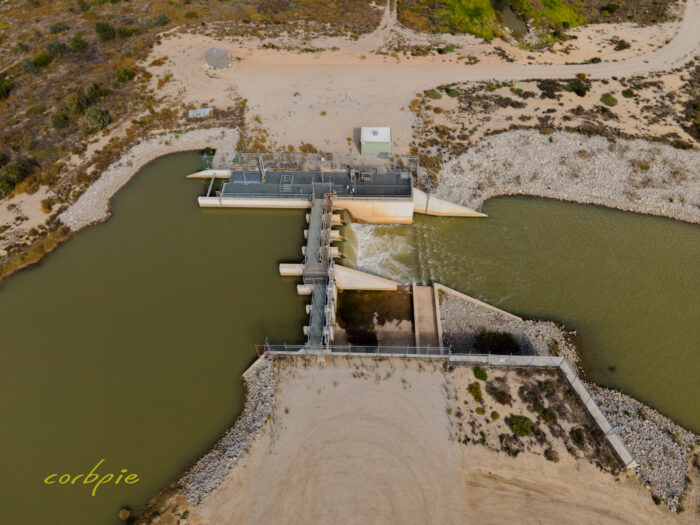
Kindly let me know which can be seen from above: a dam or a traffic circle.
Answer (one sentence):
Looking from above, you can make out a dam.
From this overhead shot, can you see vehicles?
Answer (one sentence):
No, the scene contains no vehicle.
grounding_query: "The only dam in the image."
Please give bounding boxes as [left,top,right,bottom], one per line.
[280,214,444,354]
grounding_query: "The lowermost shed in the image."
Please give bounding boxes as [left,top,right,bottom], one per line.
[360,127,393,155]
